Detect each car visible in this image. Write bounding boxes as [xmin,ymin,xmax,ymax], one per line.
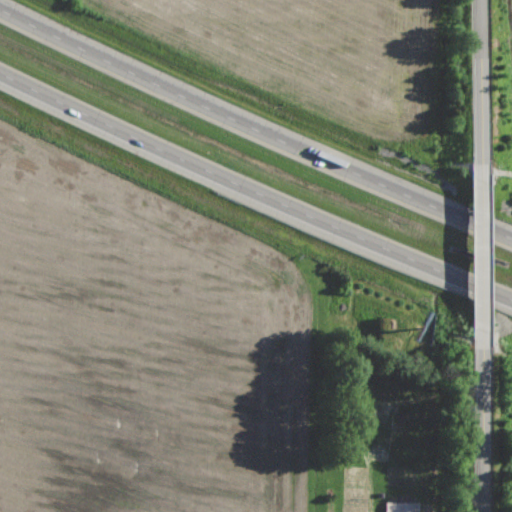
[314,160,326,168]
[70,110,81,118]
[132,140,143,148]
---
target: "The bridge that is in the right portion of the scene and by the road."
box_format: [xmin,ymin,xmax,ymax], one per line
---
[472,156,496,360]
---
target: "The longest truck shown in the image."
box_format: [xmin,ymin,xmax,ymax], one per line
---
[308,146,350,168]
